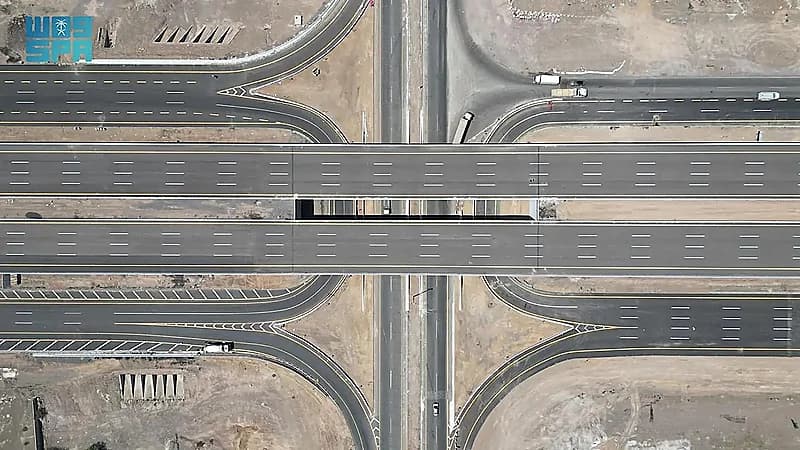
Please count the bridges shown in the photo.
2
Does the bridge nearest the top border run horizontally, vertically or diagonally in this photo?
horizontally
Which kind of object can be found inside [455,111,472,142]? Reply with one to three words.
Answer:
vehicle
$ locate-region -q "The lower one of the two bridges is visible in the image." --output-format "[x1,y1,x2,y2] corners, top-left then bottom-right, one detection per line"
[291,219,541,277]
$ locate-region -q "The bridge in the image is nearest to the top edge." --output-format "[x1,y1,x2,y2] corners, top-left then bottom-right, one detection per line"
[291,141,541,200]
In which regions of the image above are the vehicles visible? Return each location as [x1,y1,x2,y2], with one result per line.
[570,80,585,86]
[759,91,780,99]
[433,403,439,416]
[533,73,562,84]
[455,111,472,142]
[384,200,391,214]
[201,345,229,353]
[552,87,588,96]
